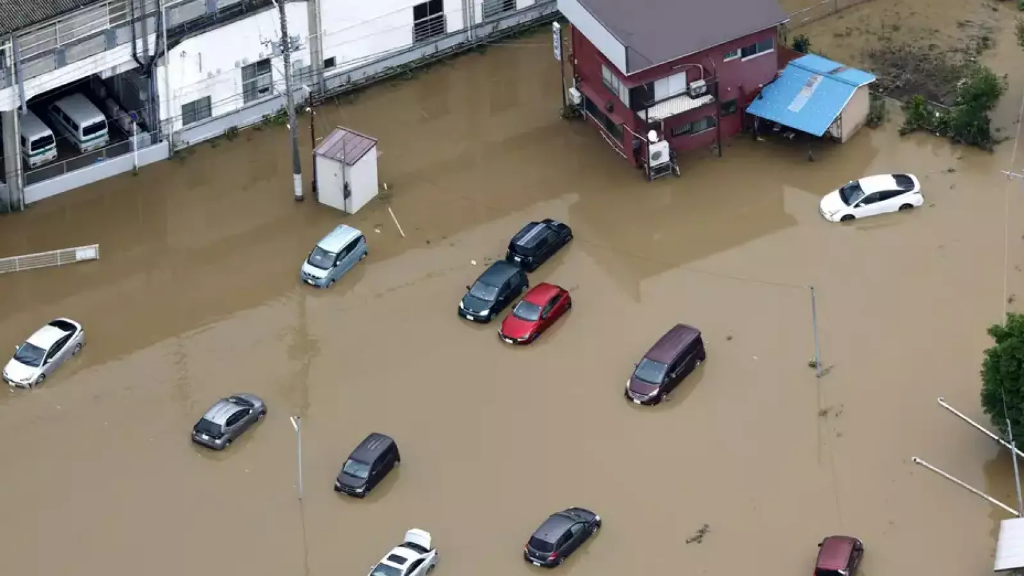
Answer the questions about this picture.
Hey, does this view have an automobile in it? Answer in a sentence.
Yes, this view includes an automobile.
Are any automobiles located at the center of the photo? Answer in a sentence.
Yes, looking at the center of the photo, one can make out an automobile.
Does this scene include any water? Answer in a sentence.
Yes, there is water in the image.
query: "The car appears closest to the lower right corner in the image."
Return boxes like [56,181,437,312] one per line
[821,536,869,576]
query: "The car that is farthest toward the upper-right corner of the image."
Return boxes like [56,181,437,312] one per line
[818,171,924,220]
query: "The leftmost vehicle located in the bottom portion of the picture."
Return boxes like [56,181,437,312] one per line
[1,314,86,386]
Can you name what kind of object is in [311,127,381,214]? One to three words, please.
shed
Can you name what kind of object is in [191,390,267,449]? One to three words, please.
car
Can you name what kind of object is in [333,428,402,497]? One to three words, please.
car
